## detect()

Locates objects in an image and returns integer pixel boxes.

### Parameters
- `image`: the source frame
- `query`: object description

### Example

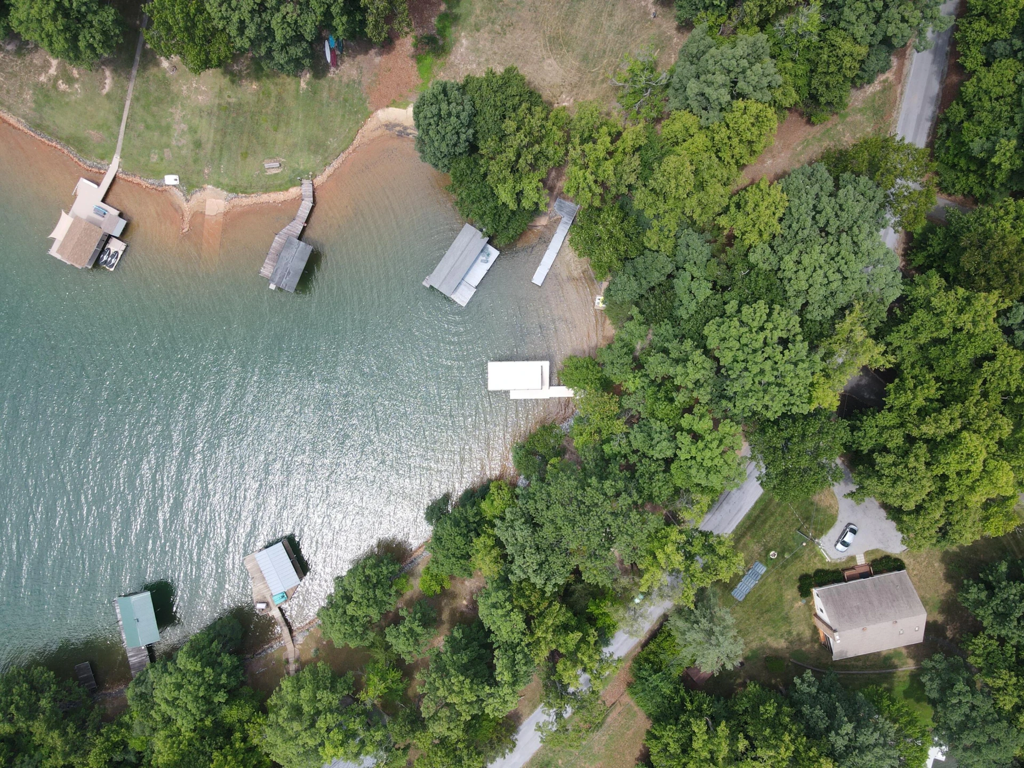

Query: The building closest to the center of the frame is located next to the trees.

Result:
[488,361,549,399]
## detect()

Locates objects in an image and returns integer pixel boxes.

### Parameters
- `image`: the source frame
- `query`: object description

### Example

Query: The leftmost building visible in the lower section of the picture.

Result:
[112,587,169,683]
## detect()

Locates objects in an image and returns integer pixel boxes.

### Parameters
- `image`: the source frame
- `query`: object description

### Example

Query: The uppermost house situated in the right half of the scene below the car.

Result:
[808,560,927,662]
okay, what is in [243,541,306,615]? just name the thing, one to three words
building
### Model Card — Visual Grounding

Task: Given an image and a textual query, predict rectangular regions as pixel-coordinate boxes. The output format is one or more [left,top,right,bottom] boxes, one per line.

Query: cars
[834,522,856,552]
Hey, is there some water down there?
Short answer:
Yes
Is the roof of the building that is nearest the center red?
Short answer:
No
